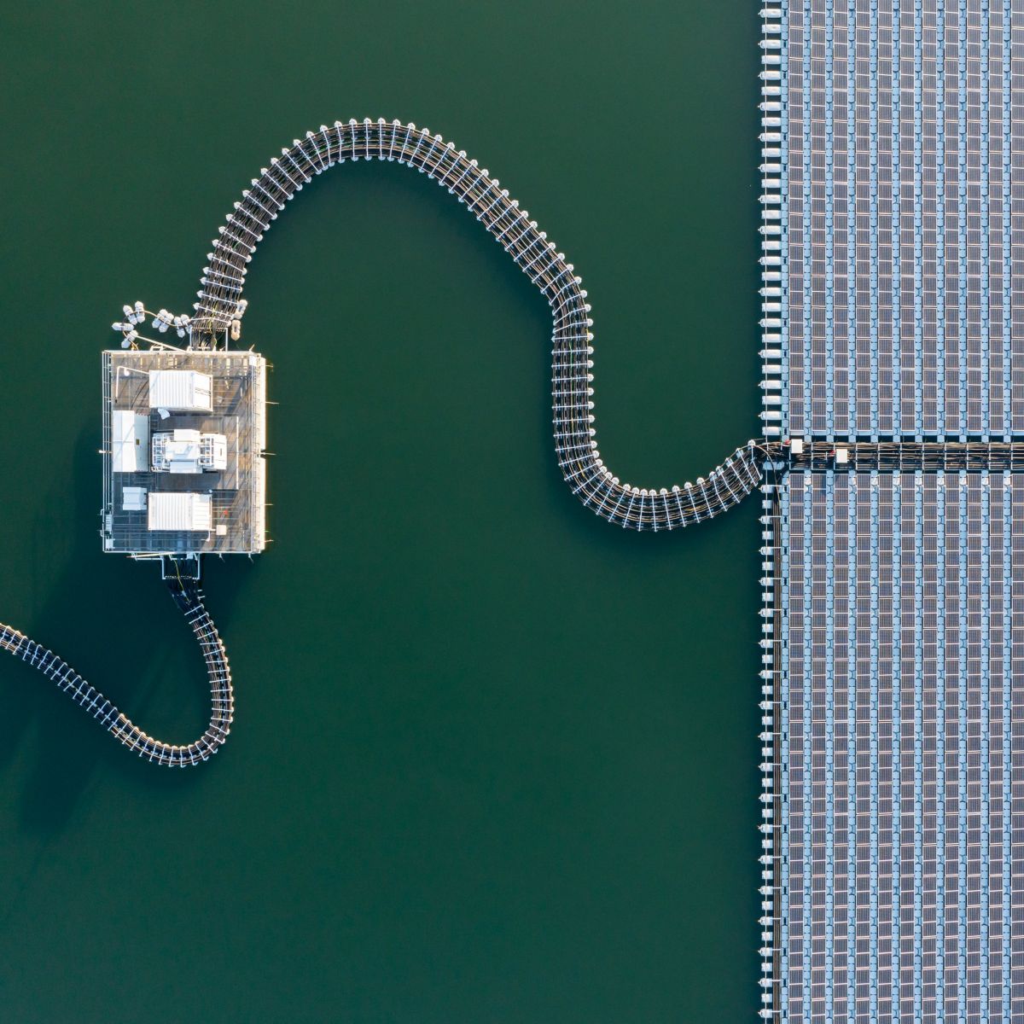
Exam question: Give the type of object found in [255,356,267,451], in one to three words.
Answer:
pier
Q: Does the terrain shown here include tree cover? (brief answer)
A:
No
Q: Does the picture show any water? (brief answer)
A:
Yes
